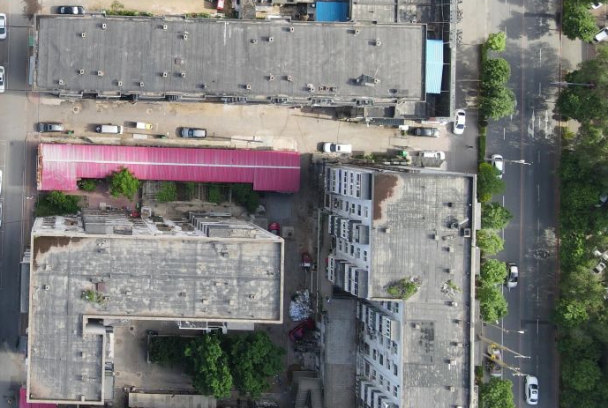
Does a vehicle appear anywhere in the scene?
Yes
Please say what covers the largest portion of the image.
buildings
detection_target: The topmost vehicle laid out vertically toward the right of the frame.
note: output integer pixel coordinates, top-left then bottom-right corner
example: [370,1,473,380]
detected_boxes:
[452,108,465,136]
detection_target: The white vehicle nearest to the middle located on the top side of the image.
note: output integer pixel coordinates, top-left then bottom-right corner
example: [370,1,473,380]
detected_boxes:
[323,141,351,153]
